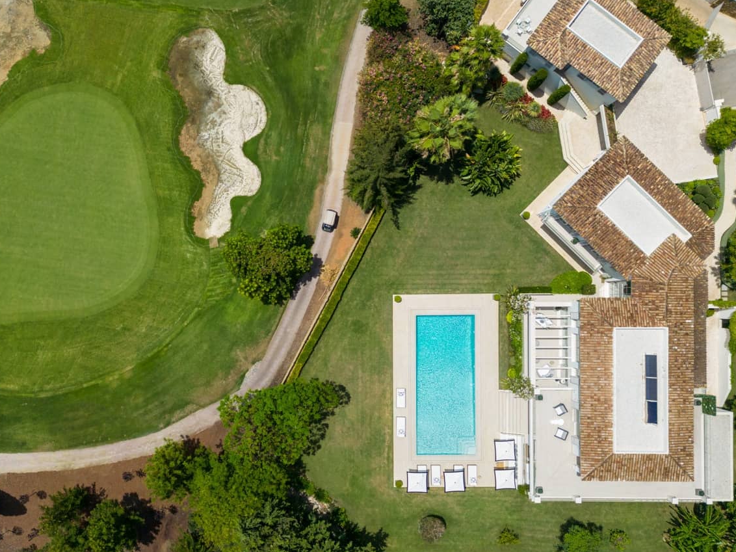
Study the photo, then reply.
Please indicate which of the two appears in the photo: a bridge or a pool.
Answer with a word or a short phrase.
pool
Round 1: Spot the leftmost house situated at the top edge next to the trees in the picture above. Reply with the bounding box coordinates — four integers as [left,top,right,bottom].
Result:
[492,0,673,110]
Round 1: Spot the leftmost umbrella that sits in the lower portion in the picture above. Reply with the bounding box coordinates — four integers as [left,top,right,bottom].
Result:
[406,471,428,493]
